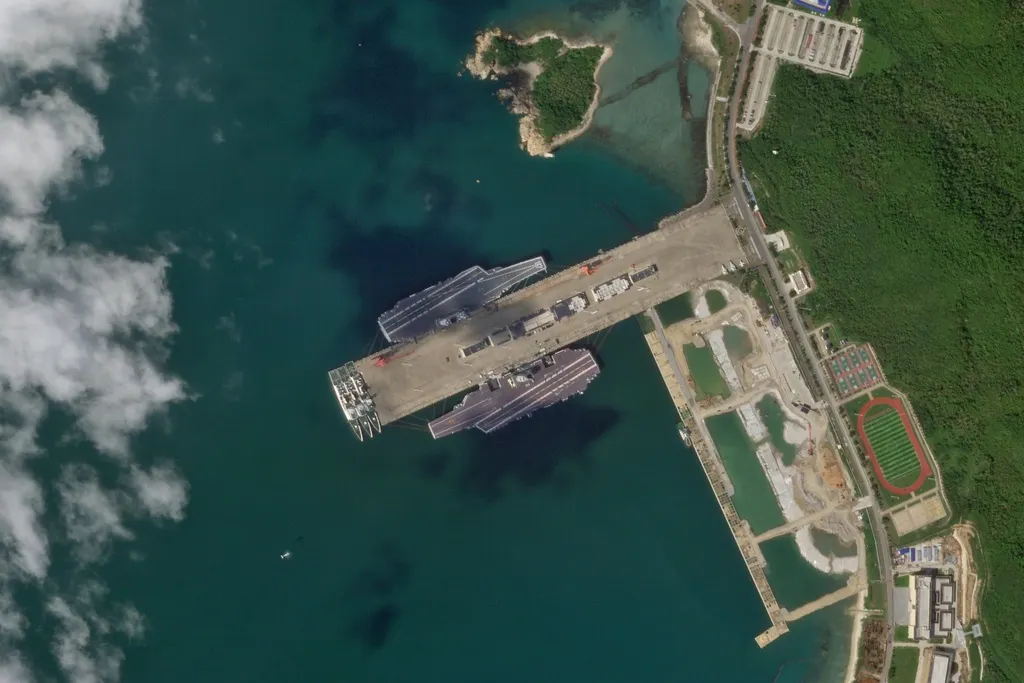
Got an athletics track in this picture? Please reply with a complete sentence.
Yes, this view includes an athletics track.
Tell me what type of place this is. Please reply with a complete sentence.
This looks like a port.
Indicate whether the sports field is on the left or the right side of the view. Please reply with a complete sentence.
It is on the right.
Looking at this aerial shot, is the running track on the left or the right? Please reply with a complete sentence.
It is on the right.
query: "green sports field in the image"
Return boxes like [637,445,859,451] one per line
[863,404,921,487]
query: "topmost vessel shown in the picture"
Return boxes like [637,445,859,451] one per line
[378,257,548,344]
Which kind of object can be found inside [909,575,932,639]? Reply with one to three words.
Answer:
building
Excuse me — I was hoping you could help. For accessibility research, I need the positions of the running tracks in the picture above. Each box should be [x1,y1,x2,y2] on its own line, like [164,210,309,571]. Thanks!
[857,391,928,493]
